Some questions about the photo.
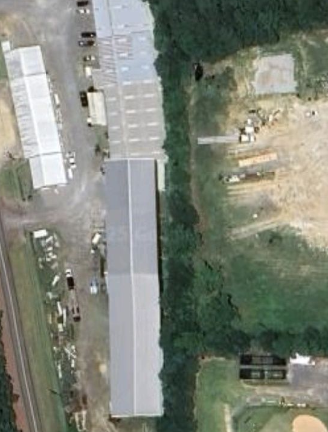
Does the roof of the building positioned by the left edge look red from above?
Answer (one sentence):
No, from above the roof of the building positioned by the left edge looks white.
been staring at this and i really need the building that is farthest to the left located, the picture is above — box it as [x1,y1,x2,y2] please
[1,41,68,190]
